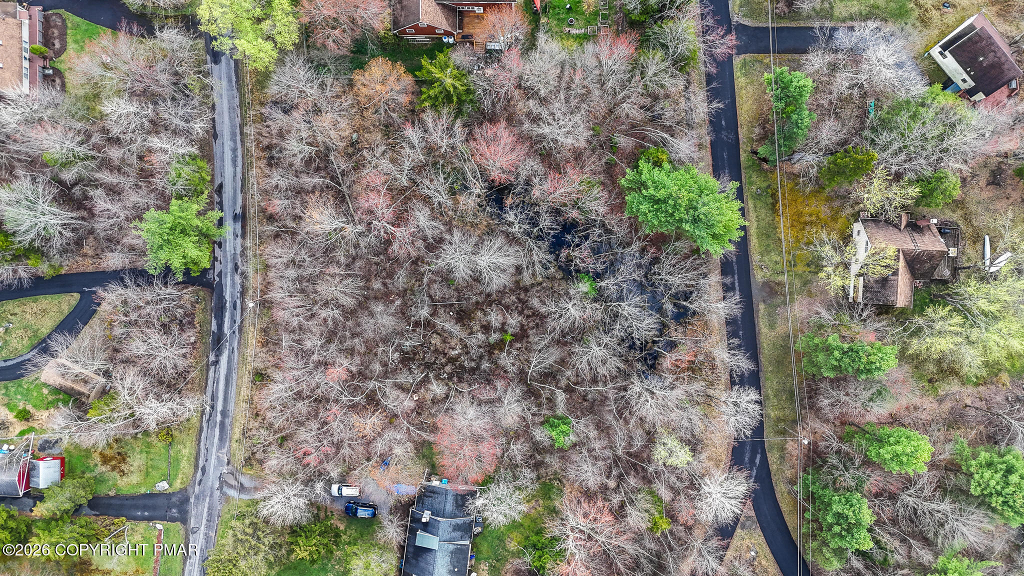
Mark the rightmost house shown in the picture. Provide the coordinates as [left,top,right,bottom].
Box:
[930,12,1024,108]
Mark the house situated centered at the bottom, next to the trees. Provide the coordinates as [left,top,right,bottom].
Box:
[401,471,486,576]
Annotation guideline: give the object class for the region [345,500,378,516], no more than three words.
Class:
car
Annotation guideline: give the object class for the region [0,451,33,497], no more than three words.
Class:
house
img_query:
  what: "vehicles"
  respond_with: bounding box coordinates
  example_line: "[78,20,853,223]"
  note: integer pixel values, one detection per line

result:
[345,500,378,516]
[331,482,360,497]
